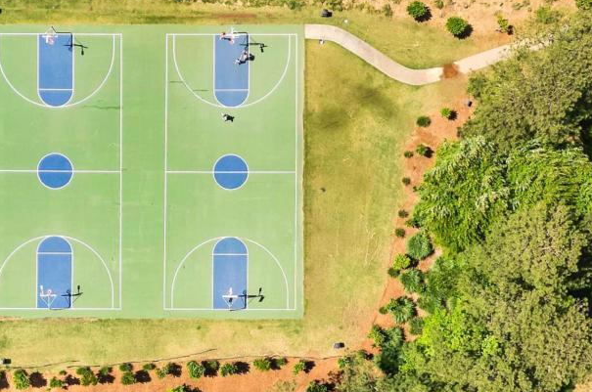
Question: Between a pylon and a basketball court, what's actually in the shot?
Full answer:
It is a basketball court that can be seen here.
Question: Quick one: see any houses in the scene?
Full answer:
No, the scene contains no house.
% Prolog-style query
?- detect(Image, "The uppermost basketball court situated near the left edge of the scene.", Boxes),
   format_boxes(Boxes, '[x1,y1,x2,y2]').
[0,24,144,319]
